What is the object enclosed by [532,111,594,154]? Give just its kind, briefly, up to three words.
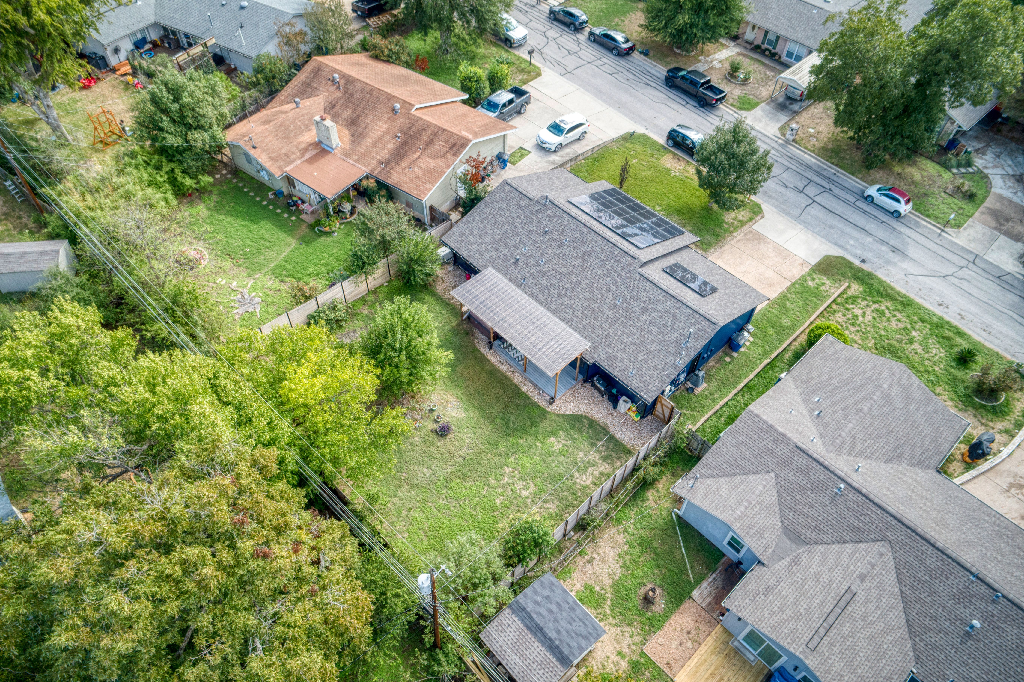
car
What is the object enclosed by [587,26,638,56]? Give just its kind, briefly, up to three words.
car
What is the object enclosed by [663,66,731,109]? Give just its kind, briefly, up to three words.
truck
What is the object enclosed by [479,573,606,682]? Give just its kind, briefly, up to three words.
shed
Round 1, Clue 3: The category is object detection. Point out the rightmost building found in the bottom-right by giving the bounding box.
[670,333,1024,682]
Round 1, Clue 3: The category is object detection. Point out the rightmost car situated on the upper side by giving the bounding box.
[864,183,922,220]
